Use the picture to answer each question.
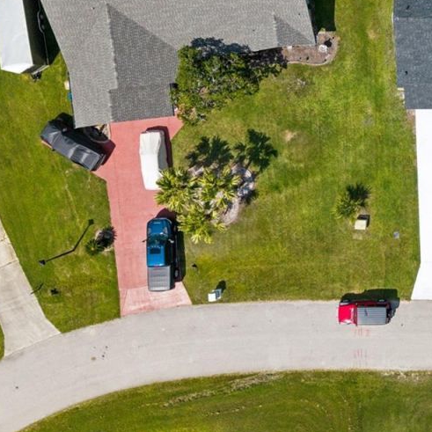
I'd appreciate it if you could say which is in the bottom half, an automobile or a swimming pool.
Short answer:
automobile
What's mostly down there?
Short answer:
grass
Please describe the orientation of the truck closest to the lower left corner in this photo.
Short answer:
up and down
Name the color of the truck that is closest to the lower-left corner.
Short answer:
blue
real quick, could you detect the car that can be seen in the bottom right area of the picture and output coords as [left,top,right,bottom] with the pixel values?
[341,301,389,328]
